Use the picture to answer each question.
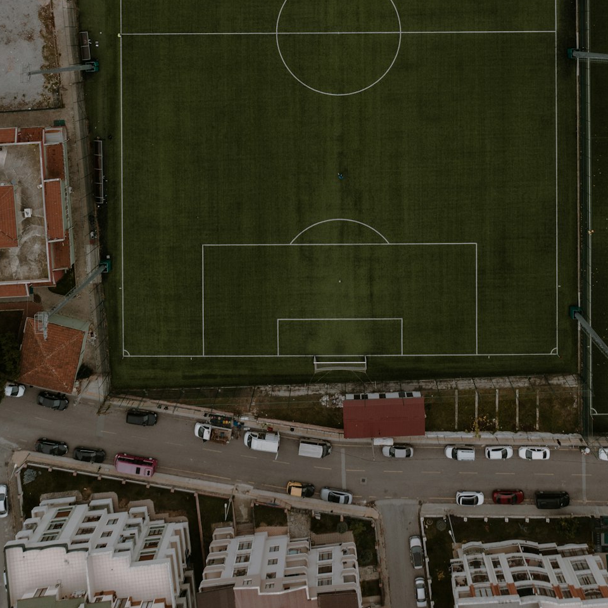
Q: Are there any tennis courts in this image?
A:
No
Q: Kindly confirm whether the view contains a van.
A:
Yes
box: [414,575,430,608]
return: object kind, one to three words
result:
car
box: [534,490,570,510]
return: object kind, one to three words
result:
car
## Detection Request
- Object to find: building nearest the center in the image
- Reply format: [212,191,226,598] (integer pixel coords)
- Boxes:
[344,390,425,438]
